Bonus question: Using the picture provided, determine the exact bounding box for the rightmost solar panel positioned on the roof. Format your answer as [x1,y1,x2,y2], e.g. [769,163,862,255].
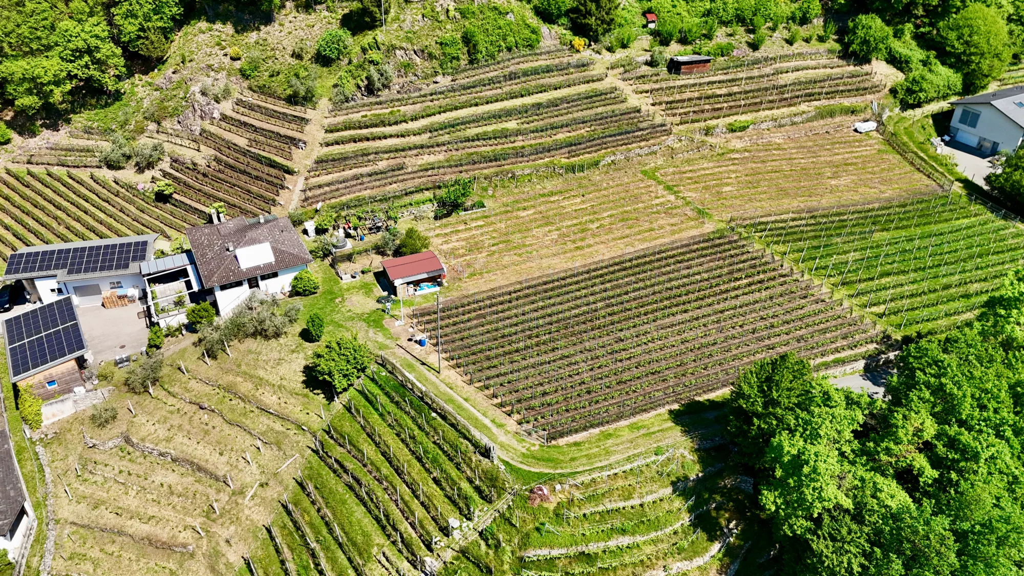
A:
[235,241,274,270]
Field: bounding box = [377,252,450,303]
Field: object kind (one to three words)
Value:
shed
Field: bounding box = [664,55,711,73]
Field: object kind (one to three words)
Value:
building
